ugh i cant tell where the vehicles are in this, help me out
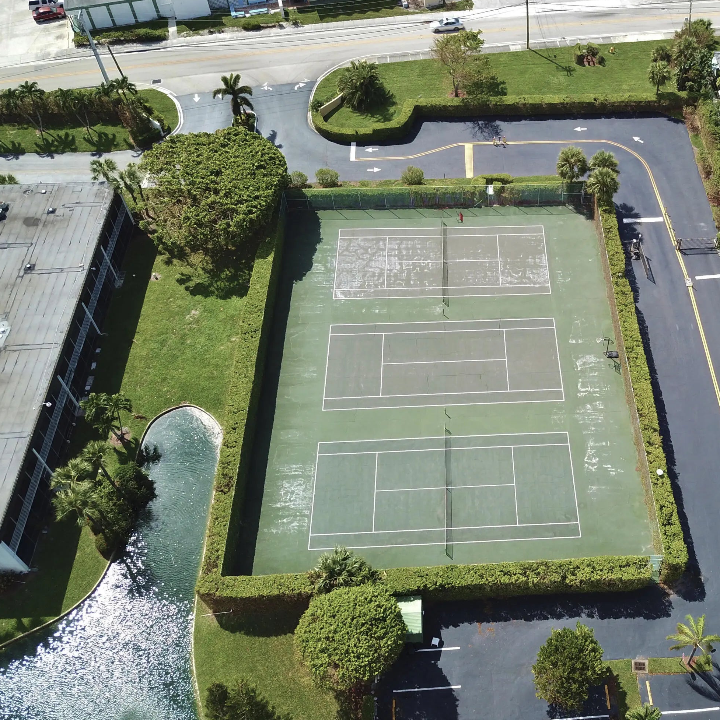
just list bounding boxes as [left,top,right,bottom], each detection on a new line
[26,0,62,11]
[31,5,64,22]
[431,18,463,35]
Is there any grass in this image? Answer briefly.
Yes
